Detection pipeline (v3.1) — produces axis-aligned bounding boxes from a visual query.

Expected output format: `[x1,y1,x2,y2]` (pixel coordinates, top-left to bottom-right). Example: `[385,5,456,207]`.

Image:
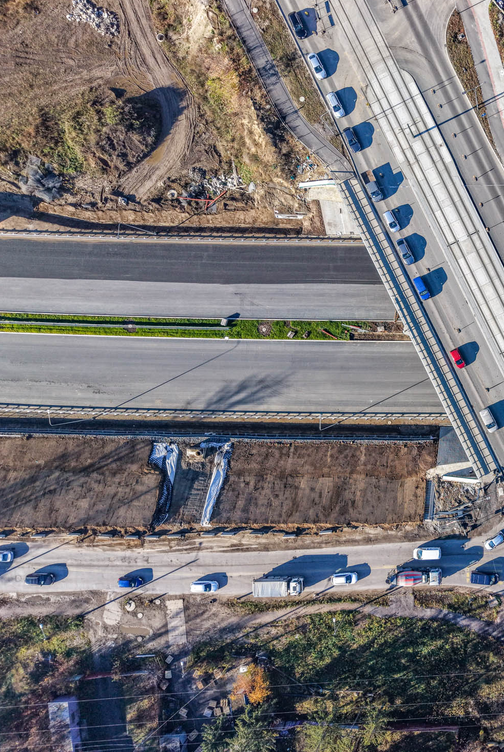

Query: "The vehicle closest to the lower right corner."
[469,569,499,586]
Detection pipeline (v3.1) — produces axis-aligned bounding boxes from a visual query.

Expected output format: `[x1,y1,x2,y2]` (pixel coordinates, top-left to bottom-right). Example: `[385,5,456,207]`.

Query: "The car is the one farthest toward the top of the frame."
[287,10,309,41]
